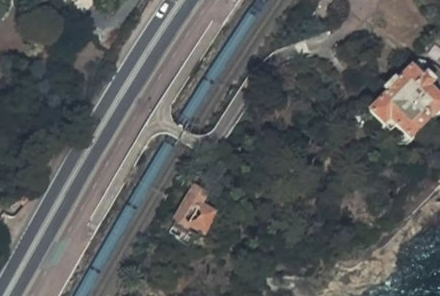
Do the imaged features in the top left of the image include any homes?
No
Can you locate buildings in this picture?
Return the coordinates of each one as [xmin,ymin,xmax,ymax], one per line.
[169,184,217,242]
[370,62,440,147]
